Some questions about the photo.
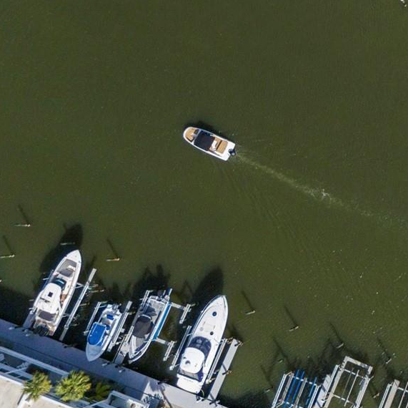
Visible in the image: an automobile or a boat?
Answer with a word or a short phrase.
boat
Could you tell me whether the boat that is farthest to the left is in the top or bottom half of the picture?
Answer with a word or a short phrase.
bottom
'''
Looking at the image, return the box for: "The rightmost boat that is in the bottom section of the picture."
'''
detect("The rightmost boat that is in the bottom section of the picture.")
[177,296,230,400]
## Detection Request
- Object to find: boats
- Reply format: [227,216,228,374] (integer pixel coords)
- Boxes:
[126,288,172,362]
[29,250,84,341]
[84,301,124,361]
[183,129,237,161]
[177,296,230,400]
